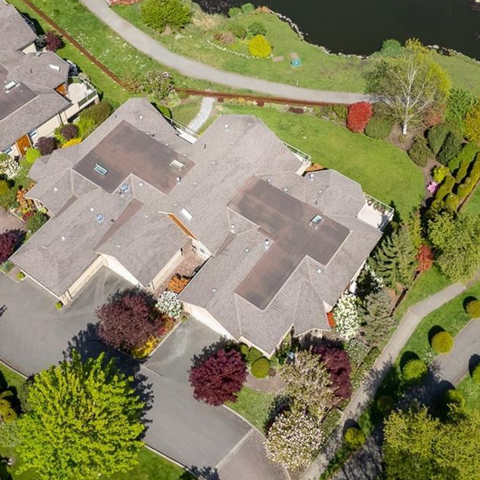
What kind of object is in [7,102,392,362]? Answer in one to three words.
house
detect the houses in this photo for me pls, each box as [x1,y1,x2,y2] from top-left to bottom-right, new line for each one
[7,102,392,362]
[0,0,99,156]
